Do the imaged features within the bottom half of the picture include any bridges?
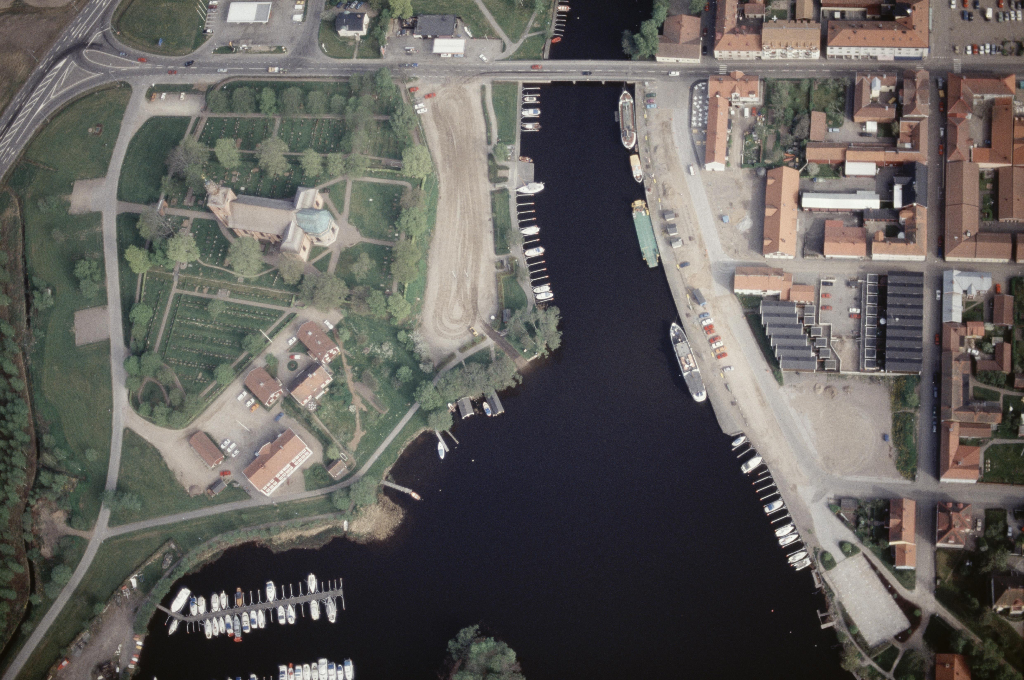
No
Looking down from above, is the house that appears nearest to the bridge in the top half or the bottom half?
top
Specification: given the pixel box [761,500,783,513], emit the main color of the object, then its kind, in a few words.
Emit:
white boat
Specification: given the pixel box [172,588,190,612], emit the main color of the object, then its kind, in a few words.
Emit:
white boat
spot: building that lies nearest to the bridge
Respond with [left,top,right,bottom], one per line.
[656,10,701,65]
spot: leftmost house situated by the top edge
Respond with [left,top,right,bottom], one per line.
[335,10,369,37]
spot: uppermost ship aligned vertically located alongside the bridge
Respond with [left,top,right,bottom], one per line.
[619,90,636,151]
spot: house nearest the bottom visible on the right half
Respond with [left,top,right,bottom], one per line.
[936,652,972,680]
